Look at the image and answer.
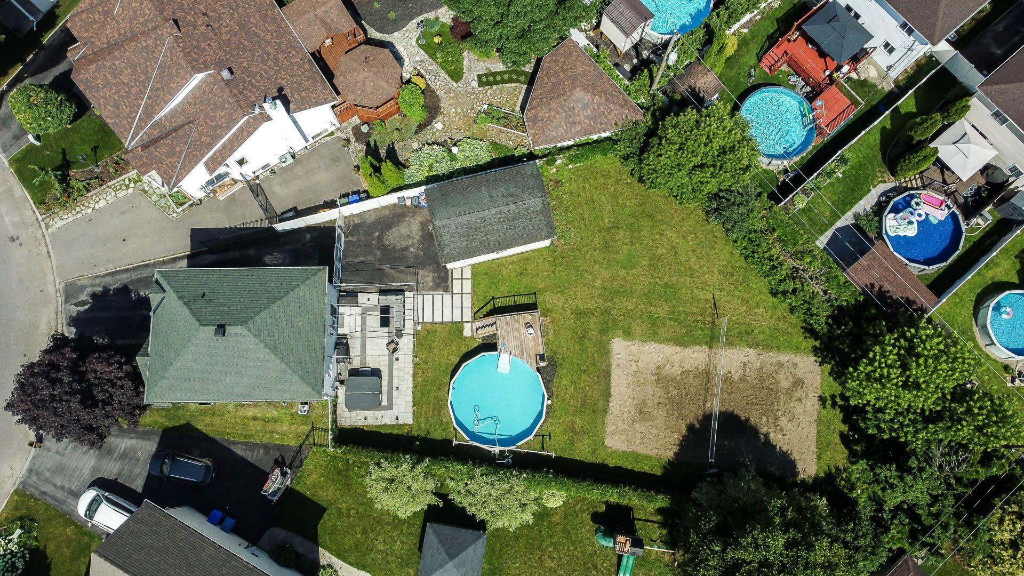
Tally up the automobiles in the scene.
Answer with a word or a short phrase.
two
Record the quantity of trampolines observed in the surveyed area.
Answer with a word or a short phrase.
0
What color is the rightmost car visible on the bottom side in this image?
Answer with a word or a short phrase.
black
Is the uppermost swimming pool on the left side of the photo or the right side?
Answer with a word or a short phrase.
right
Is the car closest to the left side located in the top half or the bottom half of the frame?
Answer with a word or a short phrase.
bottom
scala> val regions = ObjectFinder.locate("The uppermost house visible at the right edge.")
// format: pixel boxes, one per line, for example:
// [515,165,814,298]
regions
[837,0,990,80]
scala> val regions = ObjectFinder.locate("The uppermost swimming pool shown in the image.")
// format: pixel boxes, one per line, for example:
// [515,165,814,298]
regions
[640,0,713,40]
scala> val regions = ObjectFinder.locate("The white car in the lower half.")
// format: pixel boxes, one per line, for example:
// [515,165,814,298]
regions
[74,493,134,538]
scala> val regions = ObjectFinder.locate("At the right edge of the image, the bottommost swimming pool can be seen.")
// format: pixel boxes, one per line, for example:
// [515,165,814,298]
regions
[972,288,1024,363]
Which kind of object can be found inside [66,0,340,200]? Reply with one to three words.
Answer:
house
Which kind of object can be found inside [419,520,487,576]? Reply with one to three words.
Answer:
building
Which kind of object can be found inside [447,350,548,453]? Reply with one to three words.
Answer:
swimming pool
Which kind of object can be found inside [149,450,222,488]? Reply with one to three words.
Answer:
car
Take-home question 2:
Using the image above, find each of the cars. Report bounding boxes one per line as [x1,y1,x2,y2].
[149,450,222,488]
[74,493,134,538]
